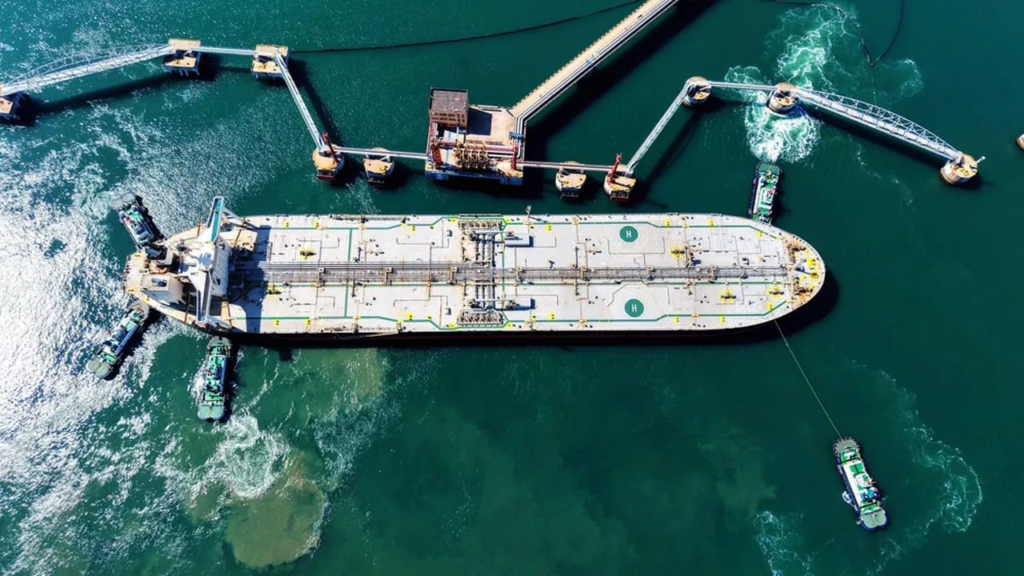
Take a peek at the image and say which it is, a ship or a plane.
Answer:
ship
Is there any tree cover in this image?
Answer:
No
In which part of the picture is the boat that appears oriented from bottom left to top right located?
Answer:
left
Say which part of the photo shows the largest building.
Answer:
top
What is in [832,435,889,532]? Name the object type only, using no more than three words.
boat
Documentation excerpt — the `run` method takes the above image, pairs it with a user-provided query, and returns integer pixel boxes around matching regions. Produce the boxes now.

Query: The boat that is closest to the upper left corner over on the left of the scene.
[111,189,164,247]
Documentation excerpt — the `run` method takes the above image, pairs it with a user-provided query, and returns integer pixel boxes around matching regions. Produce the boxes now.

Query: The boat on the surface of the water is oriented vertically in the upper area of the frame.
[747,162,781,225]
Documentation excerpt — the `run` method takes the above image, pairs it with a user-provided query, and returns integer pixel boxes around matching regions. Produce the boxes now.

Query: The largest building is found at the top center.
[430,90,470,127]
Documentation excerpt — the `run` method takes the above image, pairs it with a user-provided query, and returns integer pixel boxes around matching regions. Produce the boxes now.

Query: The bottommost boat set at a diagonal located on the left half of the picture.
[88,304,147,378]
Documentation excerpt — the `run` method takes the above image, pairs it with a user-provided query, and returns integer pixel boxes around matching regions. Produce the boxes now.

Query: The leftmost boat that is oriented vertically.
[200,337,232,420]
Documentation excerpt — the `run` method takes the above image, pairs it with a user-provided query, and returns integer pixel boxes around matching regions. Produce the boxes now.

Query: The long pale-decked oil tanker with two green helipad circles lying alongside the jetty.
[120,195,828,340]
